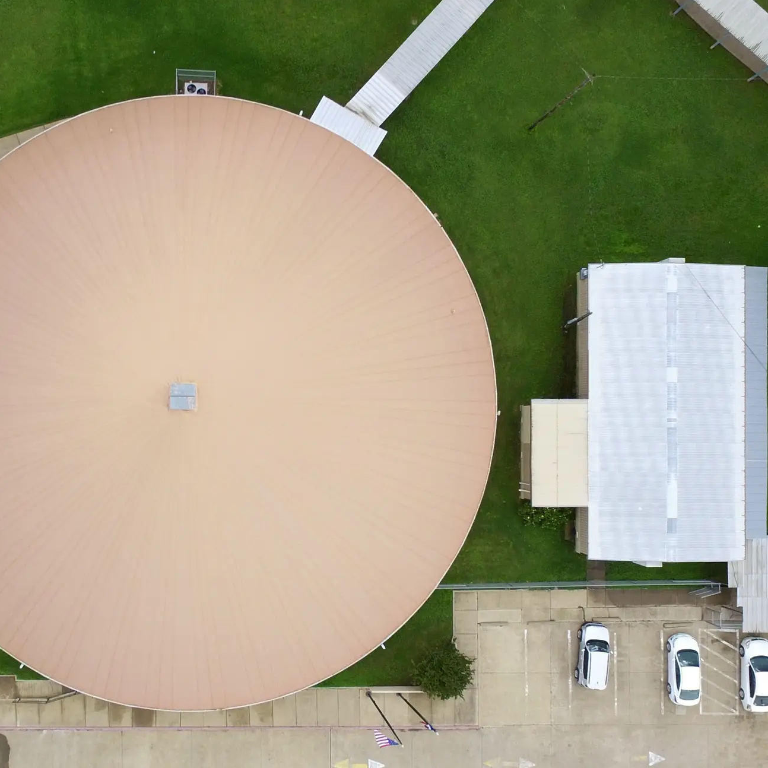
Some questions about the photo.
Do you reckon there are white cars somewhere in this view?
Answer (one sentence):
Yes, there's a white car here.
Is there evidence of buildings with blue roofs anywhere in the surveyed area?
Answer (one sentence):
No, there is no building with a blue roof in the image.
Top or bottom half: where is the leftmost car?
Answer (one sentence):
The leftmost car is in the bottom half of the image.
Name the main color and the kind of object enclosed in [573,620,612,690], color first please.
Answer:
white car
